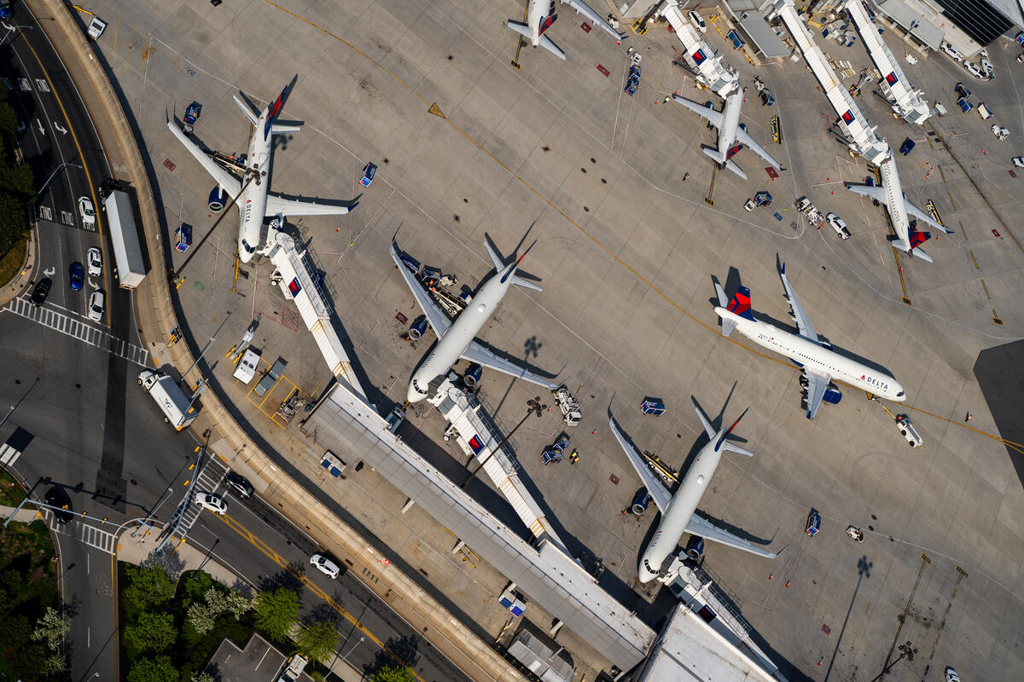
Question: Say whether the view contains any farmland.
No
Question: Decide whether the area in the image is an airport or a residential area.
airport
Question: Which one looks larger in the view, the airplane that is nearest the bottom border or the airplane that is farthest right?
the airplane that is nearest the bottom border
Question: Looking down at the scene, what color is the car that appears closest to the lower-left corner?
black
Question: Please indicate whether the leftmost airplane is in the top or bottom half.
top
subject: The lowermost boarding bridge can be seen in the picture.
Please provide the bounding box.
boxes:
[657,556,795,682]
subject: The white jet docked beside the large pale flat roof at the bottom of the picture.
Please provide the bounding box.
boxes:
[607,406,789,585]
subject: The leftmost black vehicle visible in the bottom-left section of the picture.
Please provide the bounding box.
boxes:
[46,487,70,521]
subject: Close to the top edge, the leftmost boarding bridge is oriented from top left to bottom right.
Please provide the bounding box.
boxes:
[658,0,742,102]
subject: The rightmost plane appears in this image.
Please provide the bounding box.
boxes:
[846,150,959,262]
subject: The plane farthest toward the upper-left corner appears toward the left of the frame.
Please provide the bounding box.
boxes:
[161,85,363,264]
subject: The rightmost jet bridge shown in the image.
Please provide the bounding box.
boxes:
[833,0,927,130]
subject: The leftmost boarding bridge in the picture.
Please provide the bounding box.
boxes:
[257,228,377,408]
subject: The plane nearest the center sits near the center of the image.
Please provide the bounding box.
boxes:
[388,231,570,404]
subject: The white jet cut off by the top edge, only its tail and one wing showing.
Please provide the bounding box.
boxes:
[509,0,631,58]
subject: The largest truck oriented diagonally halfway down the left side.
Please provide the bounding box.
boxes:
[138,375,205,436]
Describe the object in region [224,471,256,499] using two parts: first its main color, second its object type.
black car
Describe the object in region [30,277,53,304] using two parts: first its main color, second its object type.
black car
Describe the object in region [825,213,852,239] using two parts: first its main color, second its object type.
white truck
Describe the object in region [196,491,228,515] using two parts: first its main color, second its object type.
white car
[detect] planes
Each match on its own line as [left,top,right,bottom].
[673,82,790,178]
[846,150,959,262]
[161,85,363,264]
[388,231,570,404]
[607,406,789,585]
[713,262,908,420]
[509,0,631,58]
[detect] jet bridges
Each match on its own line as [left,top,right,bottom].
[657,556,795,682]
[833,0,927,130]
[257,228,377,408]
[779,0,886,165]
[658,0,742,102]
[428,377,589,566]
